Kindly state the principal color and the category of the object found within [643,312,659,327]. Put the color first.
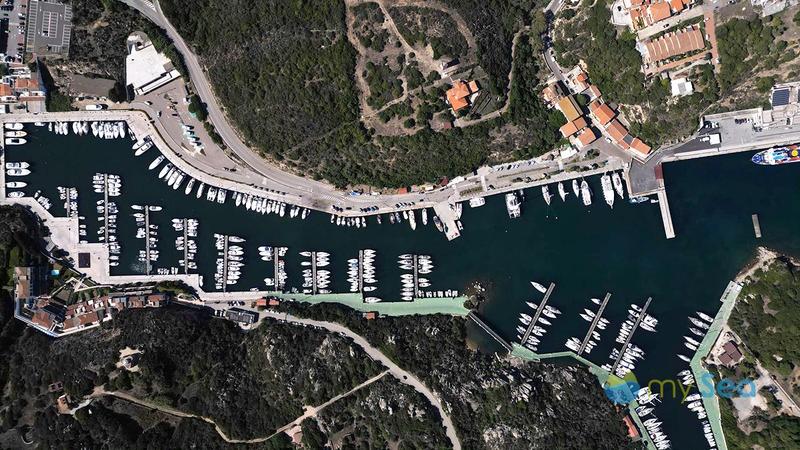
white boat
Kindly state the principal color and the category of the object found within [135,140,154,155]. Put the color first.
white boat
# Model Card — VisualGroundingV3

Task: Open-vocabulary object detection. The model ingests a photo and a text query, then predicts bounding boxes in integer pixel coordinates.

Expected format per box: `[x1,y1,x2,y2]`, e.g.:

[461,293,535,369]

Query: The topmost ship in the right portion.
[753,145,800,166]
